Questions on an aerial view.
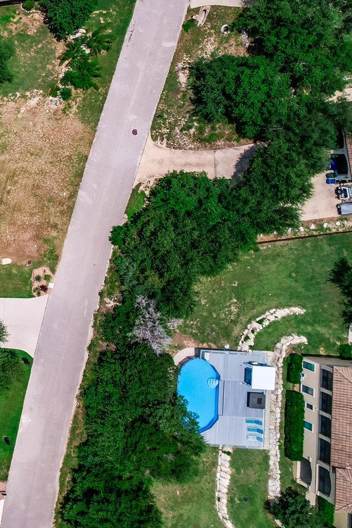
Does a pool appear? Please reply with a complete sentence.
Yes, this view includes a pool.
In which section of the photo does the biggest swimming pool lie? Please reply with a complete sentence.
The biggest swimming pool is in the bottom part of the image.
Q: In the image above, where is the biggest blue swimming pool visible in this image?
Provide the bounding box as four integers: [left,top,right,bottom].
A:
[172,355,220,434]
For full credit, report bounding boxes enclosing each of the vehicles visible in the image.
[338,184,352,202]
[339,201,352,219]
[336,158,344,173]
